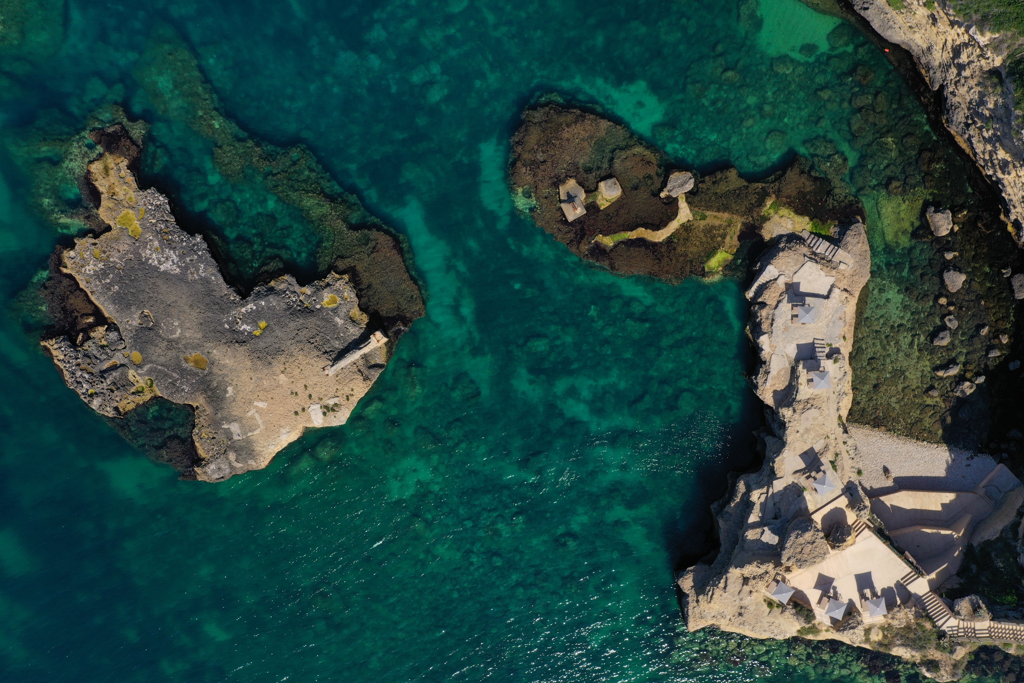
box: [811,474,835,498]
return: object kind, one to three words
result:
umbrella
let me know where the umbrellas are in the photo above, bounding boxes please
[866,597,887,618]
[812,371,831,390]
[797,306,815,324]
[824,598,847,621]
[770,581,794,605]
[811,474,835,498]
